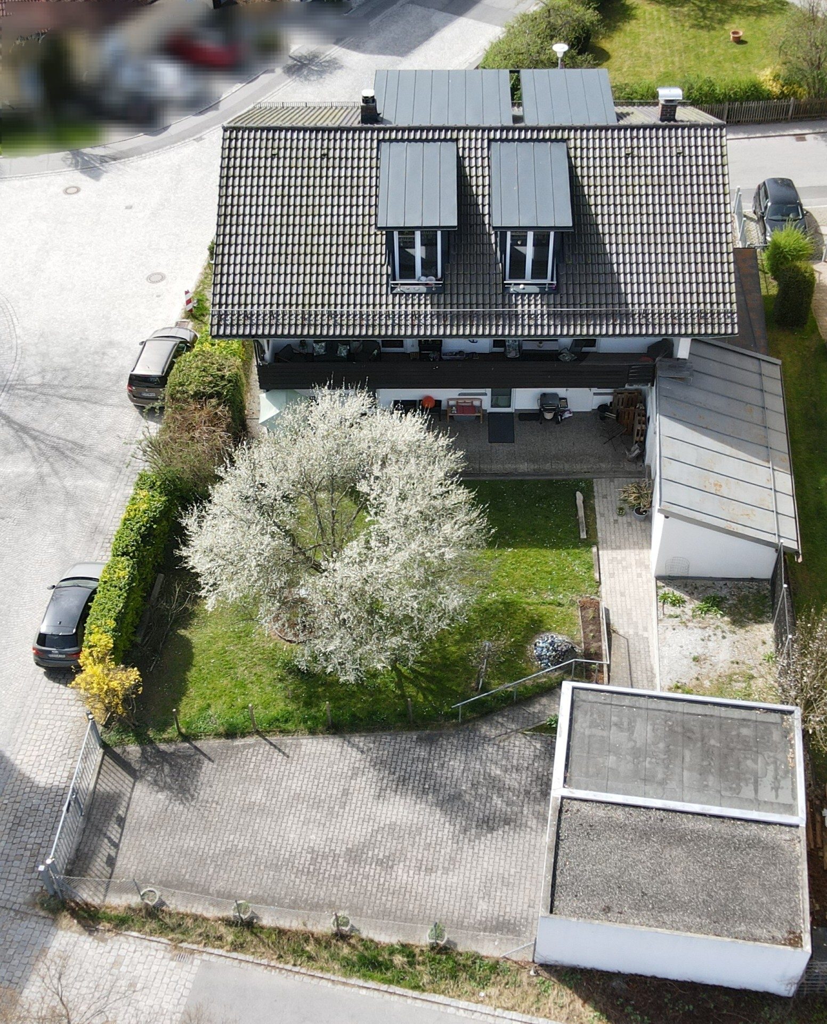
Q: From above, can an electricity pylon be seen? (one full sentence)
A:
No, I can see no electricity pylon in this picture.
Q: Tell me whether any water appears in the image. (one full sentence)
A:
No, water can't be seen anywhere here.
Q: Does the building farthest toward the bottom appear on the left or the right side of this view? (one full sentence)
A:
The building farthest toward the bottom sits on the right side.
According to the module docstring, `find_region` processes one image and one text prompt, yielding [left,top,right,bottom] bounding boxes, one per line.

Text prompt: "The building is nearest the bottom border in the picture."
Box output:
[535,794,812,1000]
